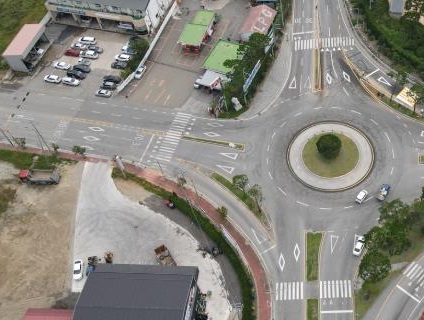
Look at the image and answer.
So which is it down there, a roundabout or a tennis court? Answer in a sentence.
There is a roundabout in the scene.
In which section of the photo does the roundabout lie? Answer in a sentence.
The roundabout is in the right part of the image.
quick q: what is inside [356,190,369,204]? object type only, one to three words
vehicle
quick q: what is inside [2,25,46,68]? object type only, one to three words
building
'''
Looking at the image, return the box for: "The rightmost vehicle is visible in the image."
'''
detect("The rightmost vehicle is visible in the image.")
[376,183,390,201]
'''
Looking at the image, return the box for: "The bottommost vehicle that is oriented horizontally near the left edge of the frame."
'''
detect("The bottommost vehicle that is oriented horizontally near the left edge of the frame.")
[17,169,61,184]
